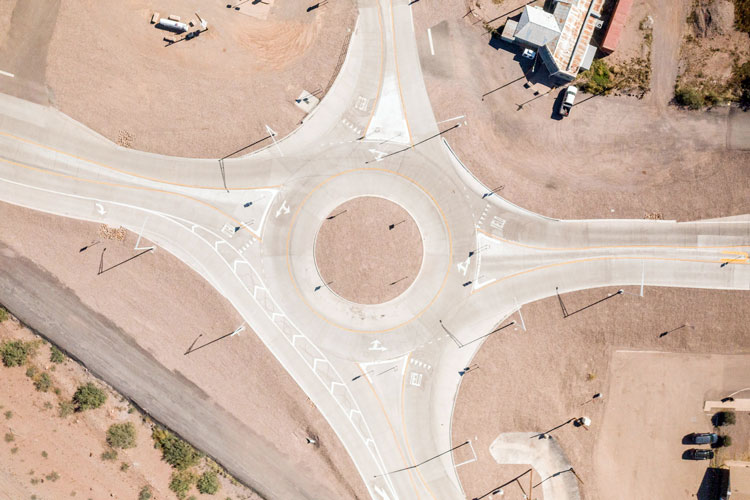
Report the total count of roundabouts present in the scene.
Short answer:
1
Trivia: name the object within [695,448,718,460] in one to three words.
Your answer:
vehicle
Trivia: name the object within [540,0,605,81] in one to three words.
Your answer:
building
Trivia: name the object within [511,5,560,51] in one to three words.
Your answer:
house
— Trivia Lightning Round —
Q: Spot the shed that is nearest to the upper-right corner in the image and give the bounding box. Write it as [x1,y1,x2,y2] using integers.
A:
[595,0,632,56]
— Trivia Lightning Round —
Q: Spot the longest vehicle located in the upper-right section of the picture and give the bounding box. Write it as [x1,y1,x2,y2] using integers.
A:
[560,86,577,116]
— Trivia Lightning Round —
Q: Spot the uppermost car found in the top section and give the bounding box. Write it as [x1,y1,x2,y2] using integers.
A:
[520,49,535,61]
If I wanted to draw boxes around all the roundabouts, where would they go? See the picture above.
[258,139,479,361]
